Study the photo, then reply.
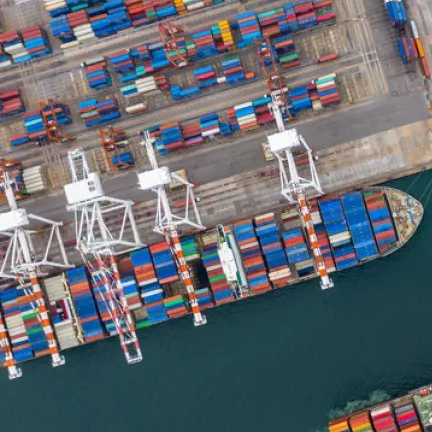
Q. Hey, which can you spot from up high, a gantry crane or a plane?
gantry crane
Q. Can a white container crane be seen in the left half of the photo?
Yes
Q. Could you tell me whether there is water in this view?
Yes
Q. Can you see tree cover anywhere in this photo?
No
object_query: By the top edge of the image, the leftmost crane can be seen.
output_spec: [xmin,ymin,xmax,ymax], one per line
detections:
[157,20,195,74]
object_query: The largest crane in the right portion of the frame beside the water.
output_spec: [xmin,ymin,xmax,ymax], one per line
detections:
[265,91,334,293]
